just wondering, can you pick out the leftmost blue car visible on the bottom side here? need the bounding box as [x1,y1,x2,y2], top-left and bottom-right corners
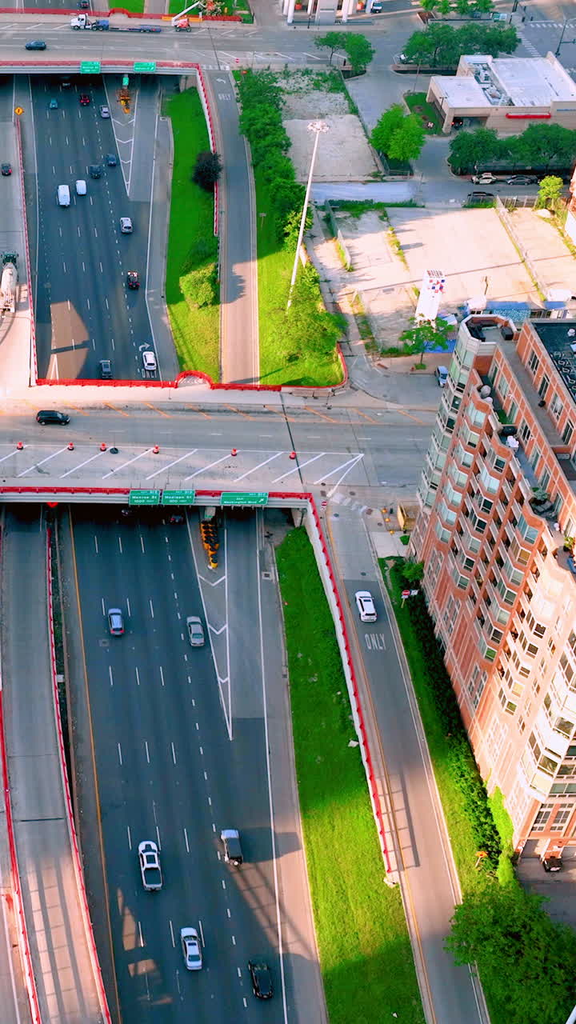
[107,605,126,636]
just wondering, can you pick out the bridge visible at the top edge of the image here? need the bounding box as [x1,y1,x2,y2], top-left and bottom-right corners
[0,6,264,98]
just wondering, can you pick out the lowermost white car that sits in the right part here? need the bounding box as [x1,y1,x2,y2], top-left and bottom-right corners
[354,588,380,621]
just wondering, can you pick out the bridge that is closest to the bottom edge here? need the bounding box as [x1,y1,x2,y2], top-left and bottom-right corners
[0,366,311,523]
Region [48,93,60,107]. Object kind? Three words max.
vehicle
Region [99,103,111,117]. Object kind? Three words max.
vehicle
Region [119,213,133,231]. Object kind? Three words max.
car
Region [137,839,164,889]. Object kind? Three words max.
truck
